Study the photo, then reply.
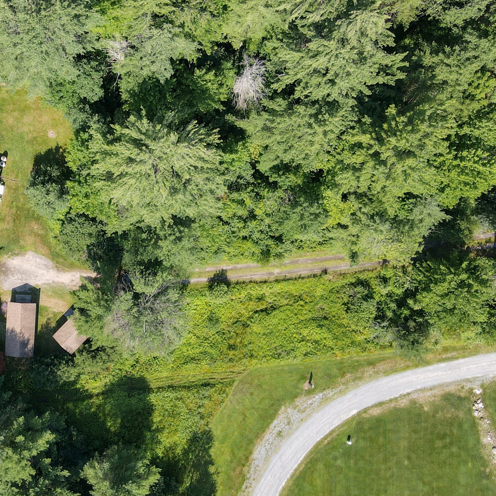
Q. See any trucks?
No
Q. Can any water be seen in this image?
No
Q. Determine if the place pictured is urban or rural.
rural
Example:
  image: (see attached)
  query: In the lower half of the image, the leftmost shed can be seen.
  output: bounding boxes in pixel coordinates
[4,290,37,358]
